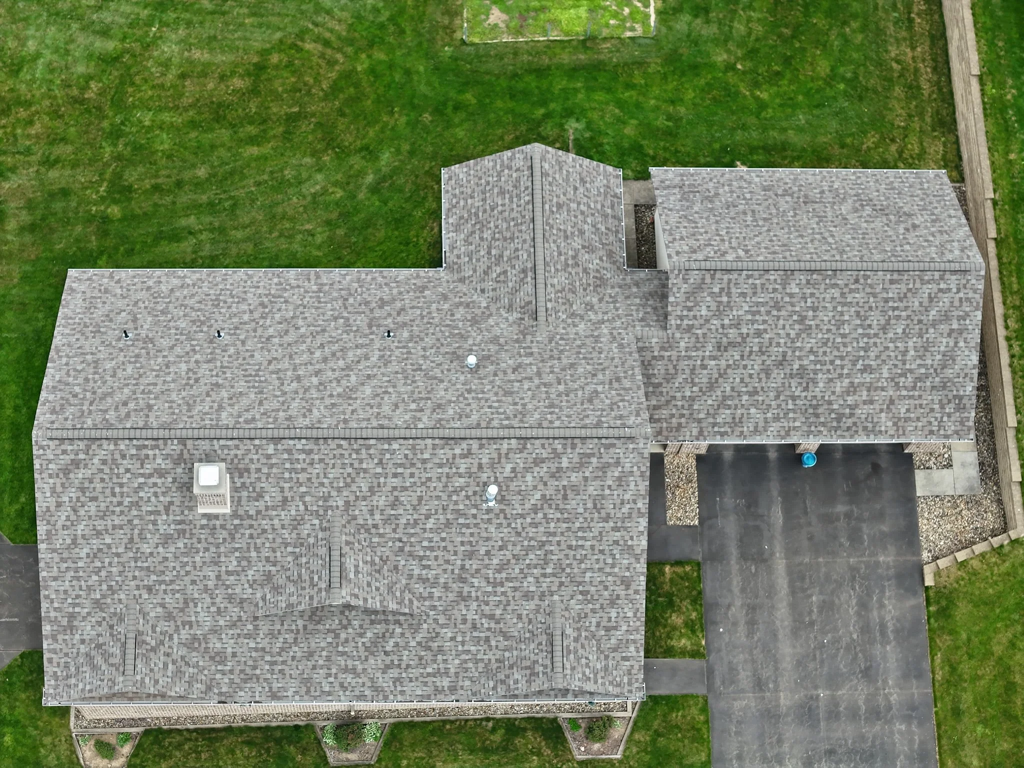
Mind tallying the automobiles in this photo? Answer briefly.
0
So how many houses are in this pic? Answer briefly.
1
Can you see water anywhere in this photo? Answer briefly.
No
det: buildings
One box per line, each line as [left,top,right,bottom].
[35,143,983,720]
